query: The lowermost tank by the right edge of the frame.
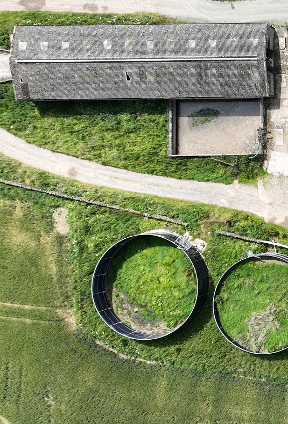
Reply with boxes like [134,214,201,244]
[212,245,288,355]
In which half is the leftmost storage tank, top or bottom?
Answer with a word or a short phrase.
bottom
